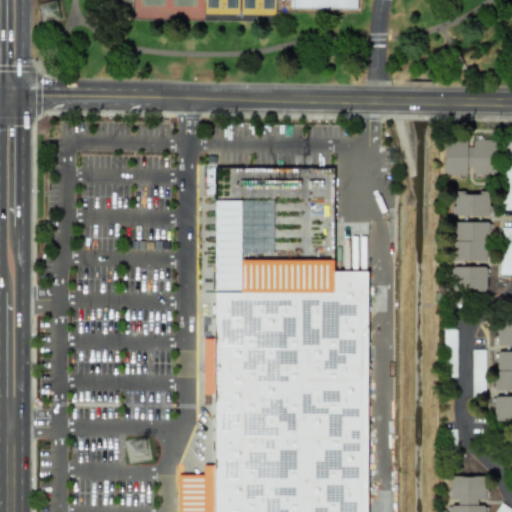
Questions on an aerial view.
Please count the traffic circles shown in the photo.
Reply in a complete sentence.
No traffic circles are visible.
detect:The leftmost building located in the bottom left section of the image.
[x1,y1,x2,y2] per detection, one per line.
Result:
[125,439,152,466]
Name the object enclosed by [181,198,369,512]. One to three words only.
building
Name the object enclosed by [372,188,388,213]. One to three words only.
vehicle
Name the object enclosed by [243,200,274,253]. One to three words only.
greenhouse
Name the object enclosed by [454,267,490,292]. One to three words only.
building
